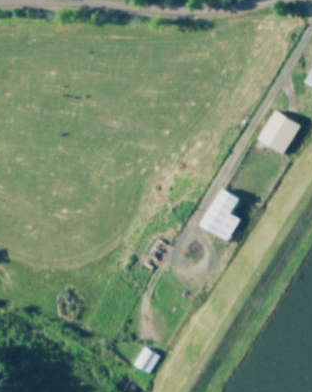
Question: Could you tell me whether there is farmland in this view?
Yes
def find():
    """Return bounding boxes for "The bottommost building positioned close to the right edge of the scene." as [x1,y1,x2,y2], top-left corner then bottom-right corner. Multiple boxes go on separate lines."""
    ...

[258,111,300,154]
